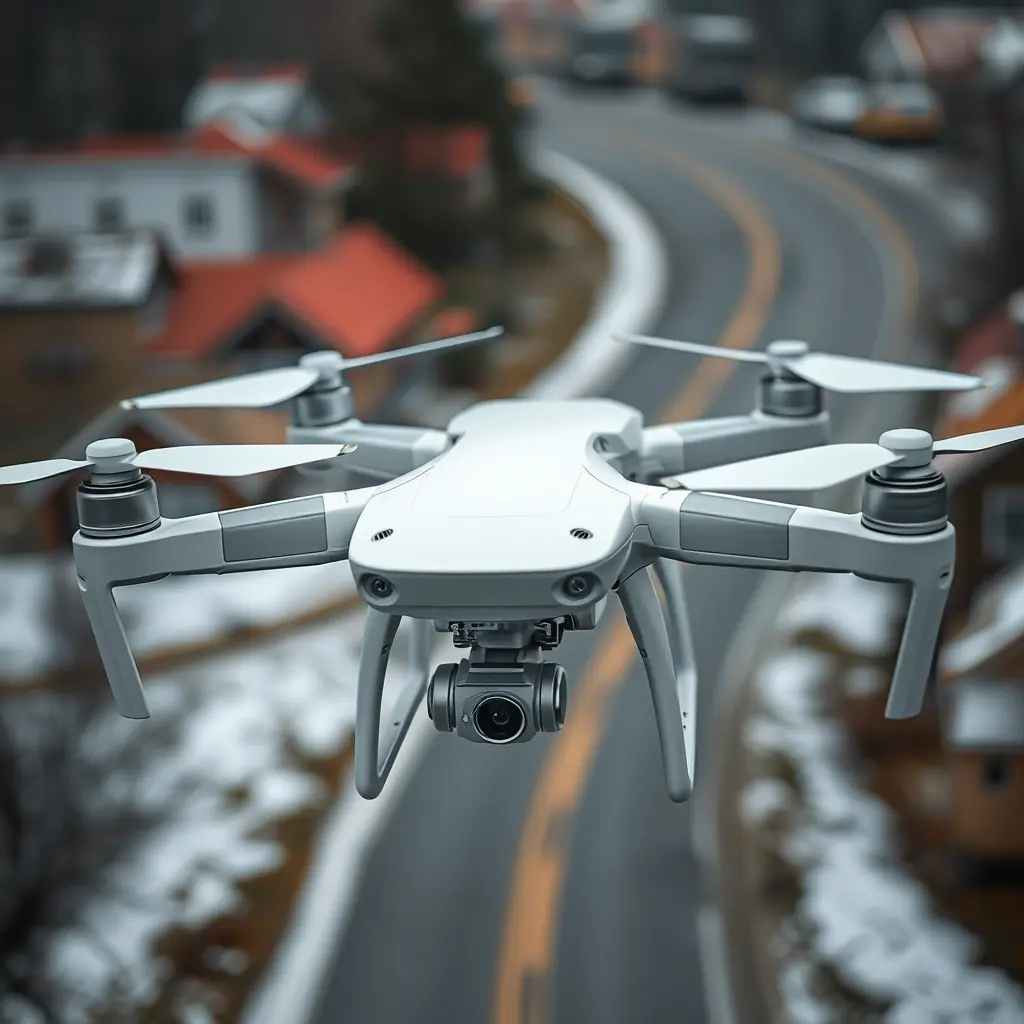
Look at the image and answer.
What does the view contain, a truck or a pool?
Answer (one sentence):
There is a truck in the scene.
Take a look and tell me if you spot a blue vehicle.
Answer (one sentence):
No, there isn't any blue vehicle down there.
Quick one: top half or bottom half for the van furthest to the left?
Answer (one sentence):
It is in the top half that the van furthest to the left appears.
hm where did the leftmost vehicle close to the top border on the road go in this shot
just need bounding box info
[566,6,640,84]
